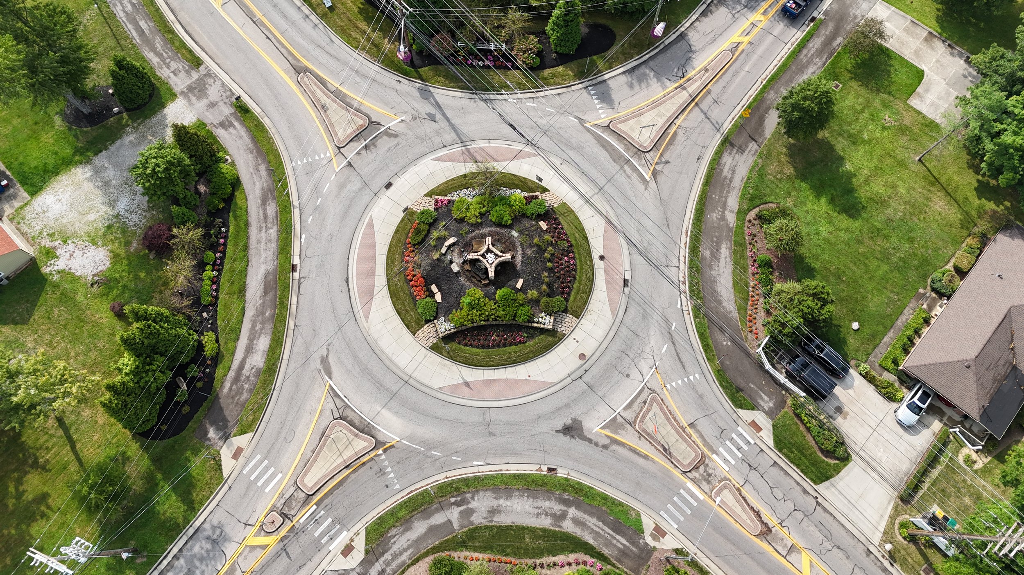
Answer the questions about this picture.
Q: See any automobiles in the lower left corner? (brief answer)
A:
No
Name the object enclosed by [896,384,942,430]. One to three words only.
car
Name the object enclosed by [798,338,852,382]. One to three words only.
car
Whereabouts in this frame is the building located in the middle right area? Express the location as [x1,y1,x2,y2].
[893,226,1024,440]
